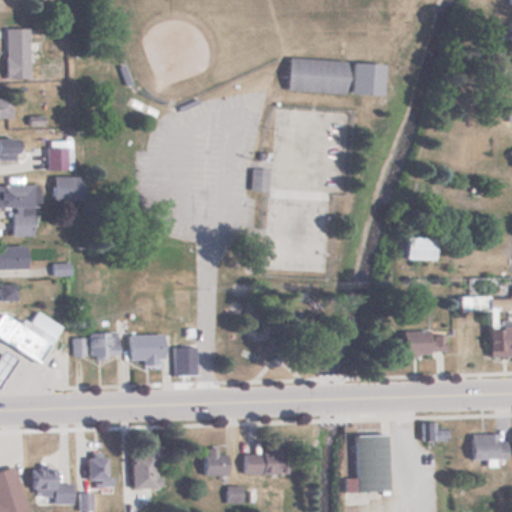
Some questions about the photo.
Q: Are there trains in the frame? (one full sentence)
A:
No, there appears to be no train in this shot.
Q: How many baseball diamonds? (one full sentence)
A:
Just 1 baseball diamond appears in this view.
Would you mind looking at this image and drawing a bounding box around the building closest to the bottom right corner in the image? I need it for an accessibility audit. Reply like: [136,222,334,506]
[472,432,511,469]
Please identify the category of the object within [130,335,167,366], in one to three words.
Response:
house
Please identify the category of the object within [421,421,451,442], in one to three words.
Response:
house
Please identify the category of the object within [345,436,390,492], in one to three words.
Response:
building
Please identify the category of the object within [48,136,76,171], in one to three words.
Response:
building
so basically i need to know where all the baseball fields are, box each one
[143,20,210,95]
